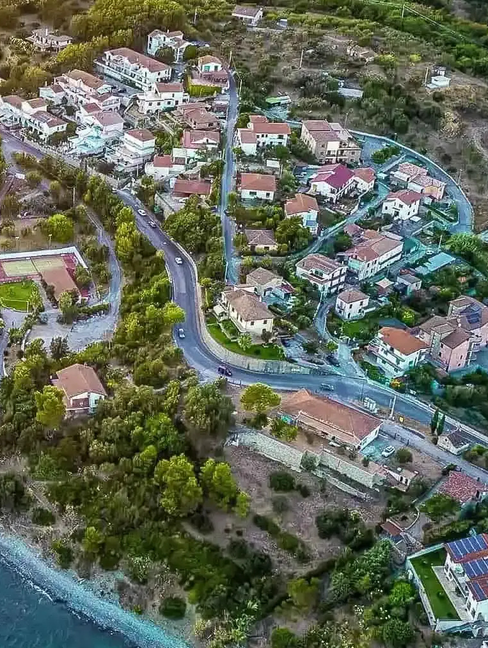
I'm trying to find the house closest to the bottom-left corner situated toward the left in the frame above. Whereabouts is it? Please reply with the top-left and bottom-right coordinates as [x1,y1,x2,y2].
[48,362,104,414]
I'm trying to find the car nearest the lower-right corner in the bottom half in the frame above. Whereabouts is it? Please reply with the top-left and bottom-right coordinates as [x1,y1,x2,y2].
[382,443,396,456]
